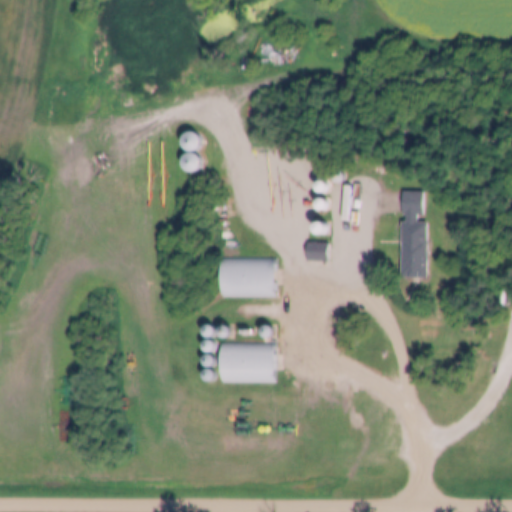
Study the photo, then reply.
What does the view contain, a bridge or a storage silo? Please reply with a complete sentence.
The image shows a storage silo.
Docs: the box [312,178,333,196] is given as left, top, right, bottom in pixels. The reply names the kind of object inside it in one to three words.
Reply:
silo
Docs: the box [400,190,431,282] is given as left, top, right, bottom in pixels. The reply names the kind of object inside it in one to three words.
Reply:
house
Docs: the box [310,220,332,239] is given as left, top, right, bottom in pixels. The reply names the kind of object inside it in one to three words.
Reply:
silo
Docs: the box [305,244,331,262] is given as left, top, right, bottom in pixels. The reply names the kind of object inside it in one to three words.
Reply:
building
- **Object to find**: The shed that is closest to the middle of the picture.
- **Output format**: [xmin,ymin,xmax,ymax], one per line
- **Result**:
[222,259,285,298]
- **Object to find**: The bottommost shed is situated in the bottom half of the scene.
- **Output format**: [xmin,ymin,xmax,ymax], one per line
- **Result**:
[222,344,285,385]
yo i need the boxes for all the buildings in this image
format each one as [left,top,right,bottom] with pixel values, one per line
[400,190,431,282]
[305,244,331,262]
[222,344,285,385]
[222,259,285,298]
